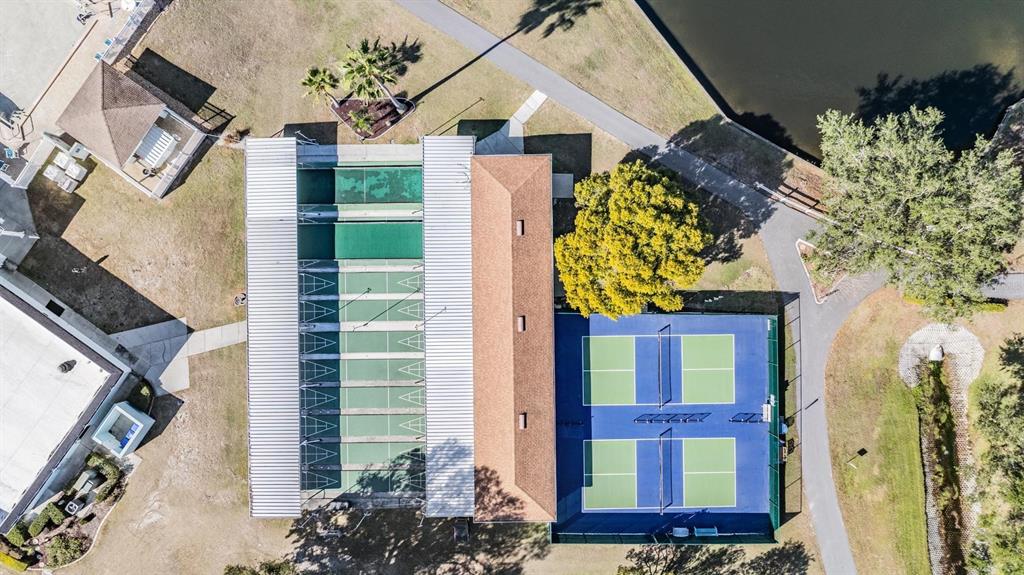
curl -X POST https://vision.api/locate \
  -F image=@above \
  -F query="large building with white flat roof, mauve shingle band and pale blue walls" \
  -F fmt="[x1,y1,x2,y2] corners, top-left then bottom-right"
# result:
[0,273,135,535]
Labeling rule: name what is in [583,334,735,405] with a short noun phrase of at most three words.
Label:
sports court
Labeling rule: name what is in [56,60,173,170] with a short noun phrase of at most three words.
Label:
building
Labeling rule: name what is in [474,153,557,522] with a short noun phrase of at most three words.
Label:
building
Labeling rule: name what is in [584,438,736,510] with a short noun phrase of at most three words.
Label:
sports court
